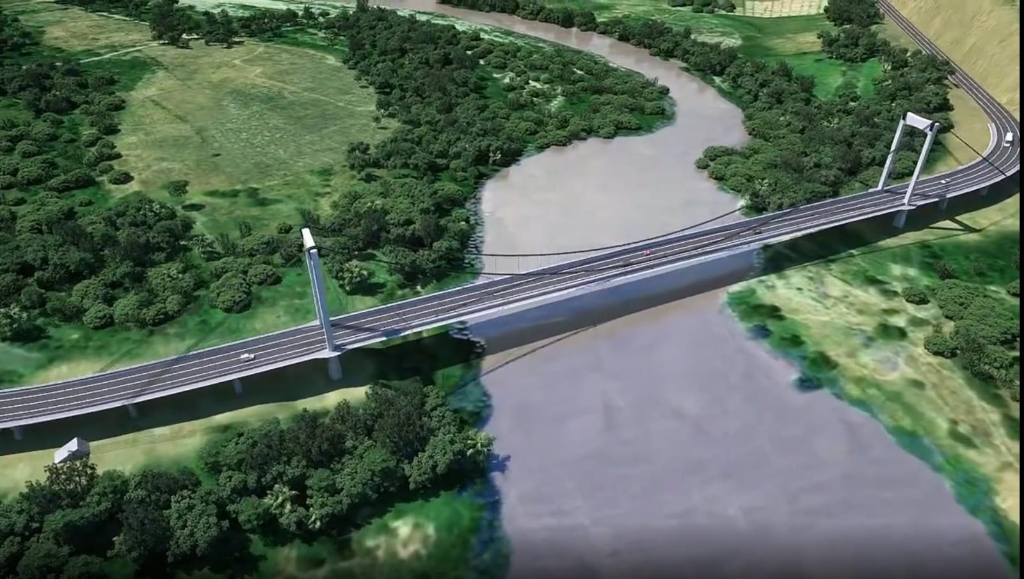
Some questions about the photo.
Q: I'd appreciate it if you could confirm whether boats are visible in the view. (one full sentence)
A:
No, no boat is visible in the view.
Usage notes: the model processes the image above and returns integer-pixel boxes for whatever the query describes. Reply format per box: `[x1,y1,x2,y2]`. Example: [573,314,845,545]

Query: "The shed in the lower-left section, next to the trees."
[60,440,93,469]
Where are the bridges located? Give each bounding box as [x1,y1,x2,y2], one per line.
[0,114,1024,441]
